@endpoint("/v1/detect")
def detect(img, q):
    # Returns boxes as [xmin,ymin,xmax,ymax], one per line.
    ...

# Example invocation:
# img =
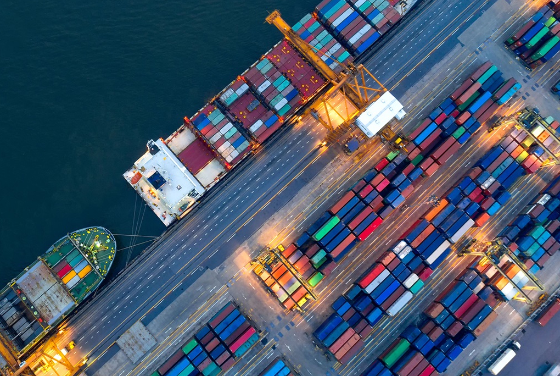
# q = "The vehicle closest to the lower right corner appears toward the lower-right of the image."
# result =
[540,354,560,376]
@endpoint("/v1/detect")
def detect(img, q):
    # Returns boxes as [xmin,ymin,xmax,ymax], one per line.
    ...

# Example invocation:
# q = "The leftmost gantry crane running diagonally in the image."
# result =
[249,240,317,312]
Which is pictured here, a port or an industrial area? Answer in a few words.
port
